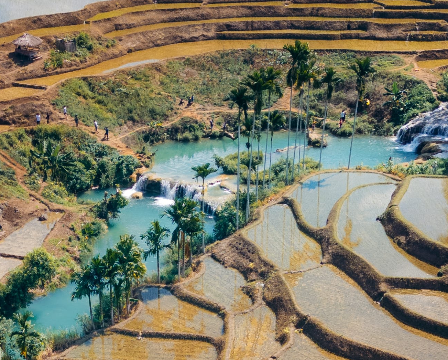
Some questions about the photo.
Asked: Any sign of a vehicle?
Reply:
No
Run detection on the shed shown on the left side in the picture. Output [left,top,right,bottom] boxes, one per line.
[1,30,50,61]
